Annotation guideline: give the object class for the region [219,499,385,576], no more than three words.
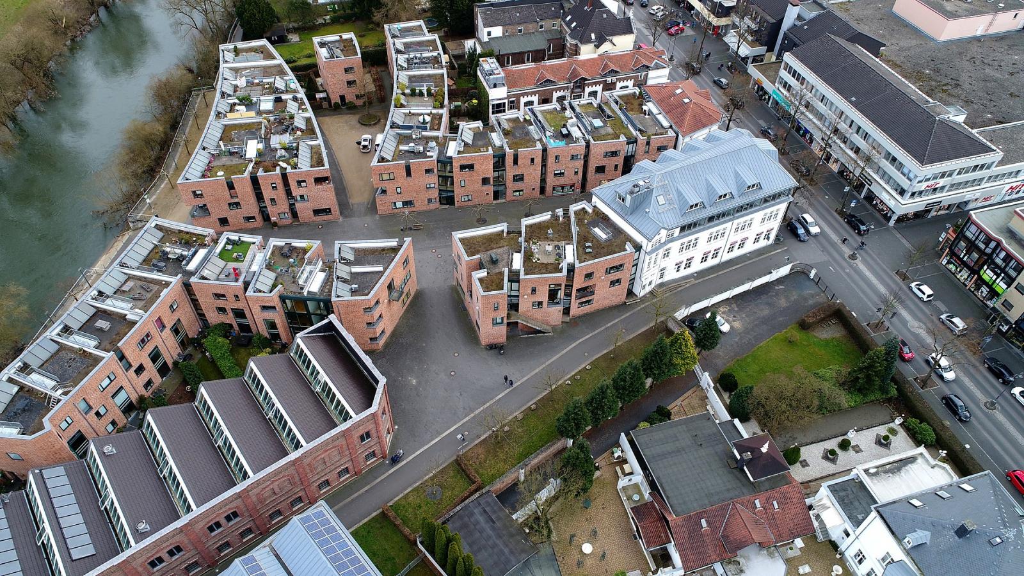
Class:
building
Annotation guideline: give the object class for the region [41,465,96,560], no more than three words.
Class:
solar panel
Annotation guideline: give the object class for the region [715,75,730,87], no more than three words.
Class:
vehicle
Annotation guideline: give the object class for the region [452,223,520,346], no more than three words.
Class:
house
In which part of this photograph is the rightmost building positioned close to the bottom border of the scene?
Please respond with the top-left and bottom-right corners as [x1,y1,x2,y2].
[849,469,1024,576]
